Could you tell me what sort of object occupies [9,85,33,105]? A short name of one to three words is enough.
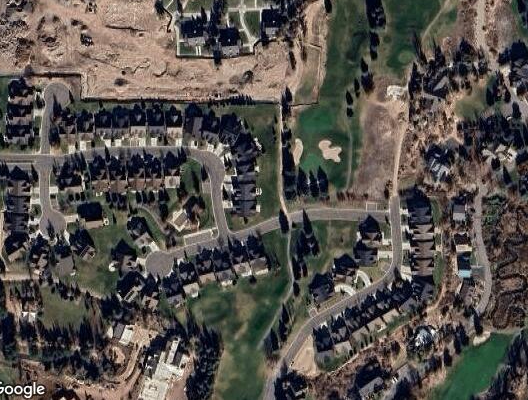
house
